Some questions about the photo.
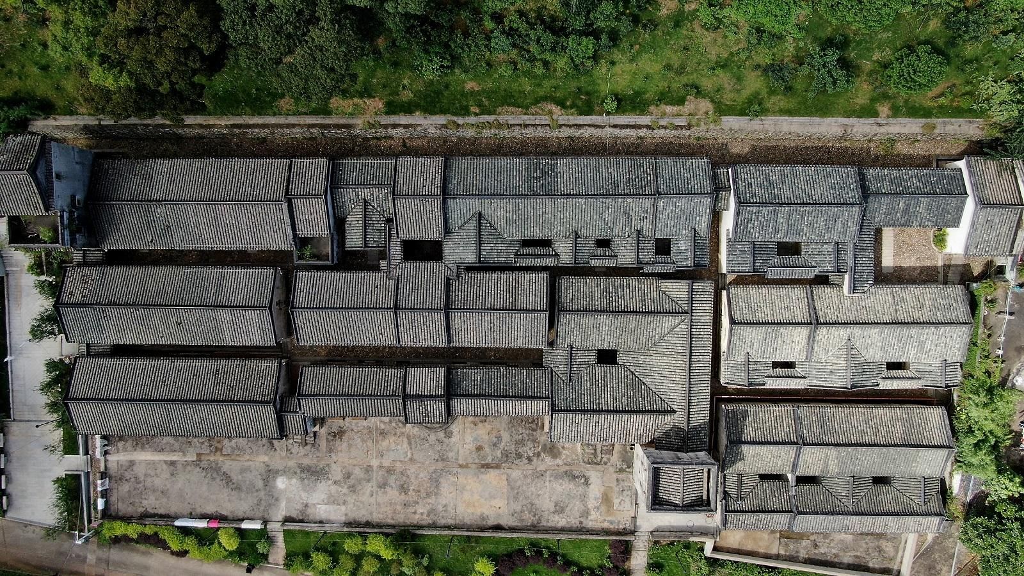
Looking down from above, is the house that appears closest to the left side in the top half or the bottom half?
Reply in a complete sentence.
The top half of the photo is where the house that appears closest to the left side is.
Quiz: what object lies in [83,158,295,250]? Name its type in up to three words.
house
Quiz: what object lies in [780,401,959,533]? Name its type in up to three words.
house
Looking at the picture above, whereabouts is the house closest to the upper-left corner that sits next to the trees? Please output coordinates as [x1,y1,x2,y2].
[0,133,115,255]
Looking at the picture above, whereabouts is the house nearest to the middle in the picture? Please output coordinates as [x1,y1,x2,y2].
[447,272,550,348]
